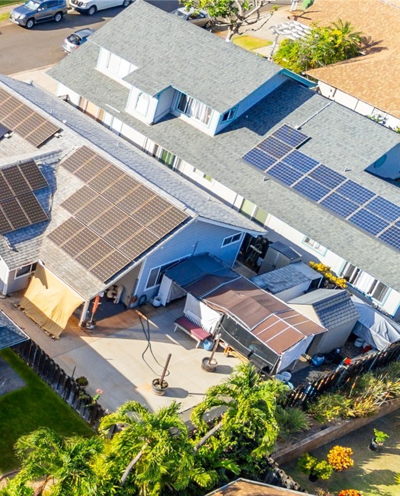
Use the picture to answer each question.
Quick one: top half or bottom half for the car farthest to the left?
top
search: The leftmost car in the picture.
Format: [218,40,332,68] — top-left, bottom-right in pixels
[7,0,70,29]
